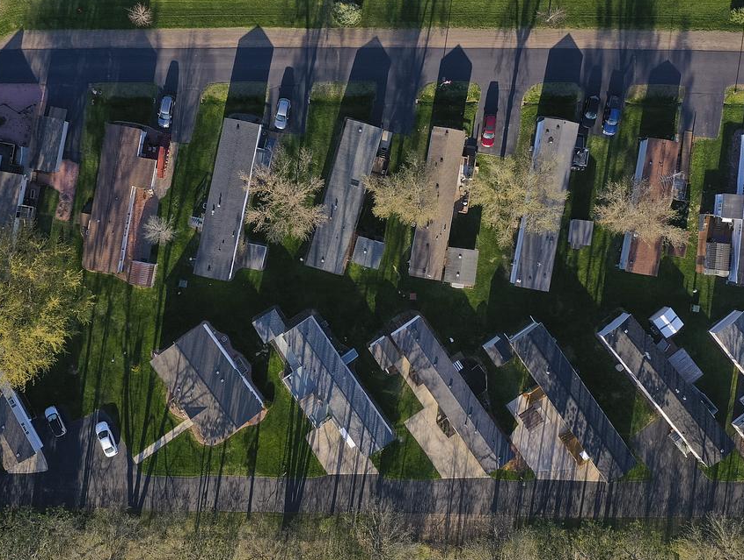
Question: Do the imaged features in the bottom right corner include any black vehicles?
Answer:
No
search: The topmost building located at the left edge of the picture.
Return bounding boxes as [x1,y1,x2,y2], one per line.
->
[35,106,72,172]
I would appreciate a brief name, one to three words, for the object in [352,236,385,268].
shed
